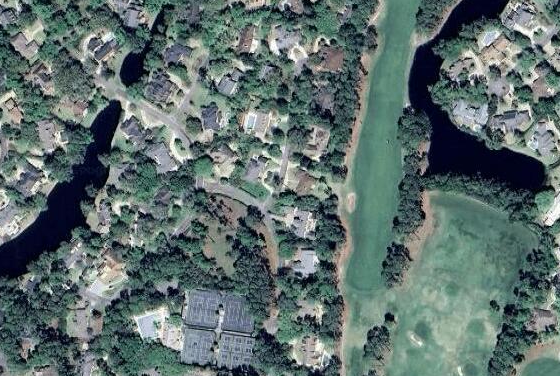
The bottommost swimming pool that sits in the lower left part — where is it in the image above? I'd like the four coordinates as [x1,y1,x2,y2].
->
[134,307,169,343]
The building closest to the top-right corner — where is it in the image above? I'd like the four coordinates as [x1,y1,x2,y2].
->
[507,4,539,35]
